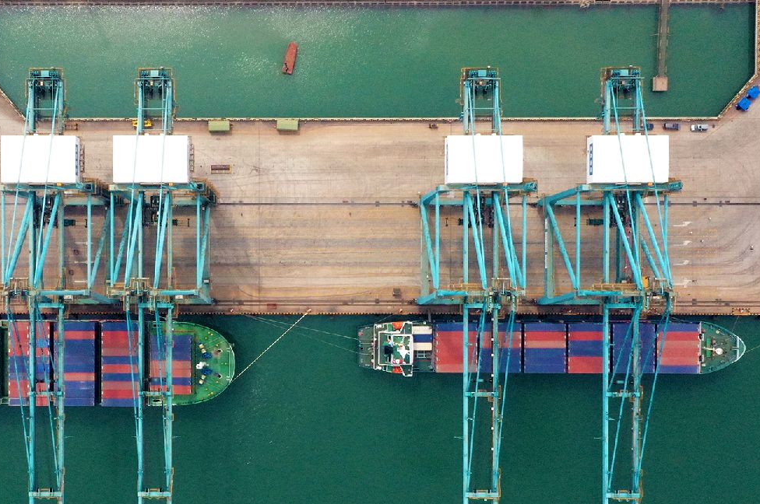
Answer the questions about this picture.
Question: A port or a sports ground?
port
